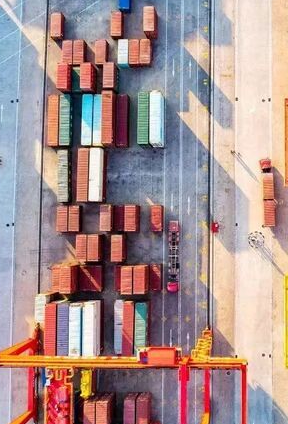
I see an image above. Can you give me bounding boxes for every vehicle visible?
[166,223,181,292]
[259,158,273,177]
